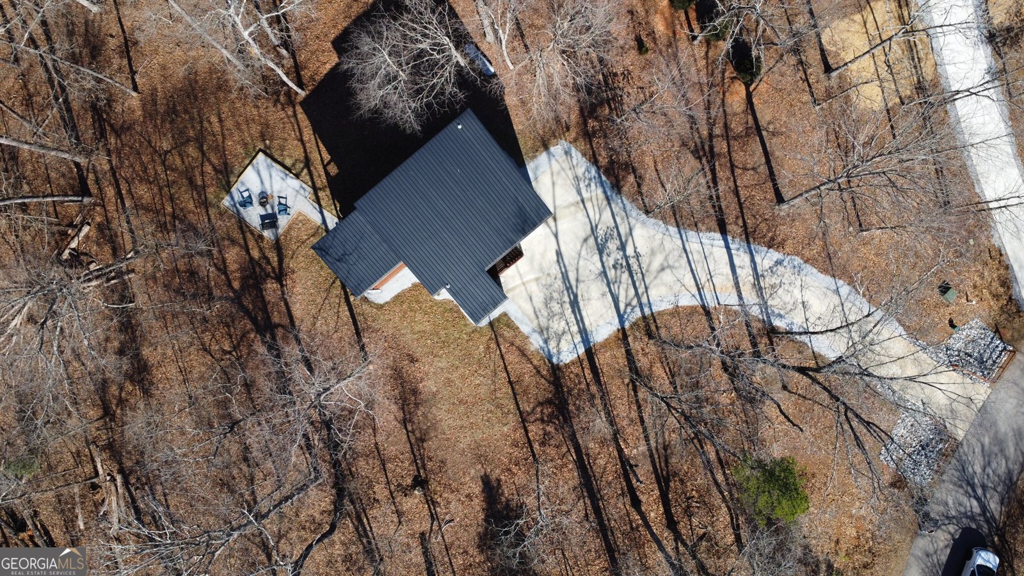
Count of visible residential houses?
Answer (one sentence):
In total, there is 1 residential house in the scene.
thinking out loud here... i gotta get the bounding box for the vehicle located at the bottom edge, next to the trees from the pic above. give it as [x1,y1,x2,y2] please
[958,543,1007,576]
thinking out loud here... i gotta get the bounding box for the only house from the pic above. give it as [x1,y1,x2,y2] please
[311,108,553,326]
